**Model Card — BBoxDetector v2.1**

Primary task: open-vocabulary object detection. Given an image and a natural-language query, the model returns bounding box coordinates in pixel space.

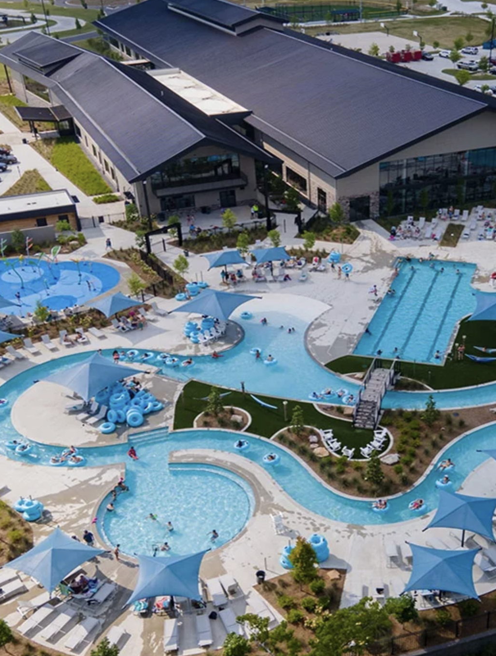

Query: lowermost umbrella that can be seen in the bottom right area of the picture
[399,540,484,604]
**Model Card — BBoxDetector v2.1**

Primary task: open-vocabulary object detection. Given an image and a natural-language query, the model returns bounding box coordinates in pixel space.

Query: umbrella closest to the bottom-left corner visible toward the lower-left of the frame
[0,525,114,603]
